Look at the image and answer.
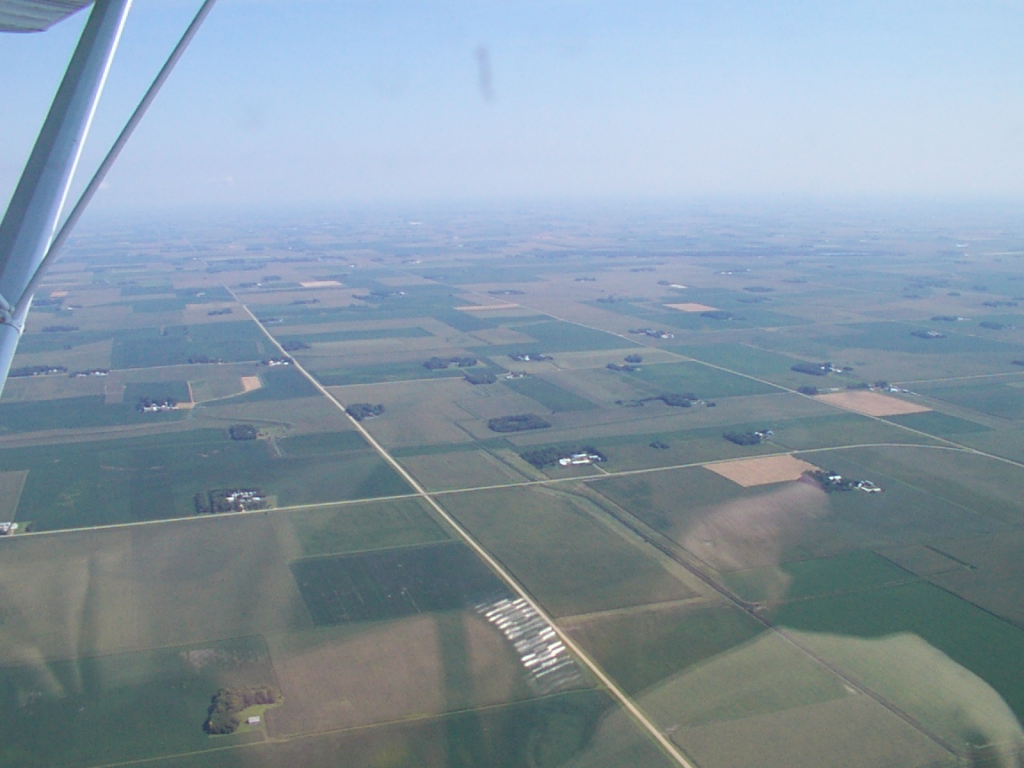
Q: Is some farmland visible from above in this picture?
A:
Yes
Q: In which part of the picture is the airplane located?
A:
top left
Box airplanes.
[0,0,213,365]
